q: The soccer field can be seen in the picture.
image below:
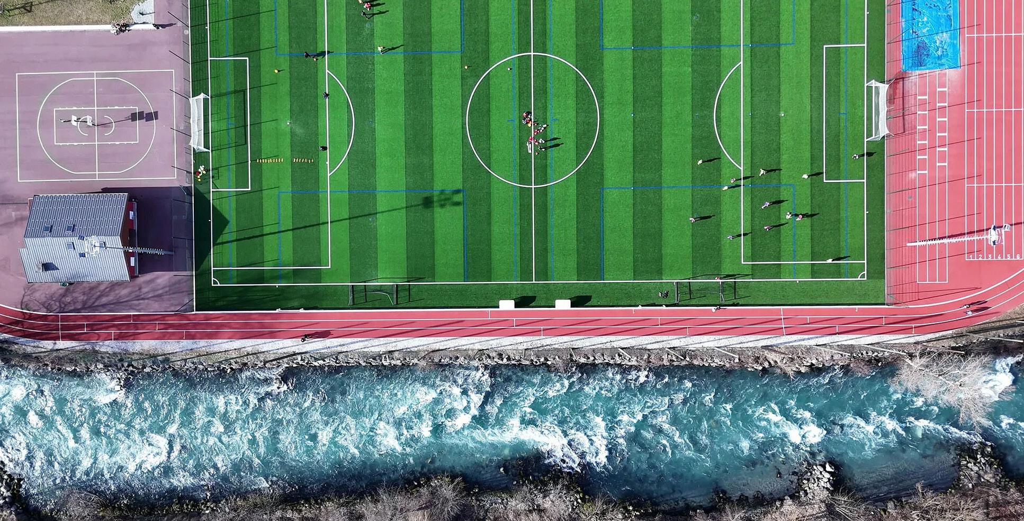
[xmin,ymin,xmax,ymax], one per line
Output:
[189,0,886,310]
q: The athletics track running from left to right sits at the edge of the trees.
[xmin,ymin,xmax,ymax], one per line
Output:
[0,0,1024,341]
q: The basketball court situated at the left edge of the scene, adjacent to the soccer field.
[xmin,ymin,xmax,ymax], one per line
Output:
[16,70,176,182]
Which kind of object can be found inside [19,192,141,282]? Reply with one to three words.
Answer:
building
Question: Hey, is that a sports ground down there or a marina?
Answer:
sports ground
